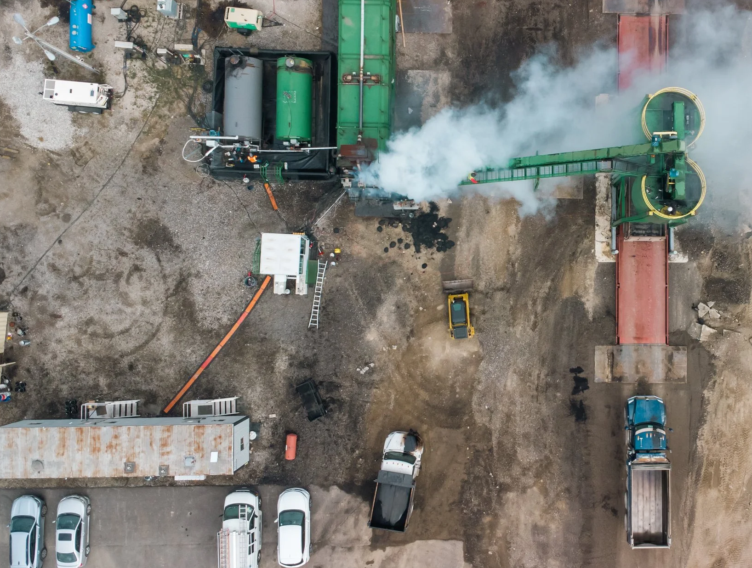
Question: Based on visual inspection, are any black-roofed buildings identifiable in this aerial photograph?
No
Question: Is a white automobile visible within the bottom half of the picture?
Yes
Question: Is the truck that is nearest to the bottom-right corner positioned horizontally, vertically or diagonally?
vertically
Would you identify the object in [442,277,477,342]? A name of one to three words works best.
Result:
work vehicle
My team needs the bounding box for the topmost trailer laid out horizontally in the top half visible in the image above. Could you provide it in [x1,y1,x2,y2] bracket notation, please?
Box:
[226,8,288,35]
